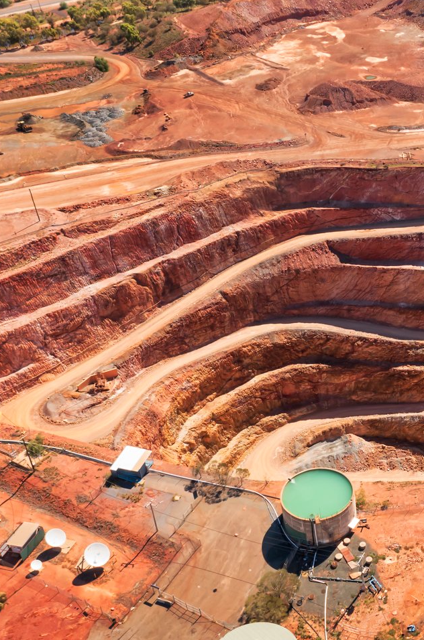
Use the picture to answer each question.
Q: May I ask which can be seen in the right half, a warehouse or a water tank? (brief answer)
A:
water tank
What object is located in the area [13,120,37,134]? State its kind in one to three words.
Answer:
vehicle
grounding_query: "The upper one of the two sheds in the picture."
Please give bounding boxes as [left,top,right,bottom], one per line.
[111,447,152,483]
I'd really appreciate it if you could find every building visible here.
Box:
[6,522,41,558]
[111,447,152,483]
